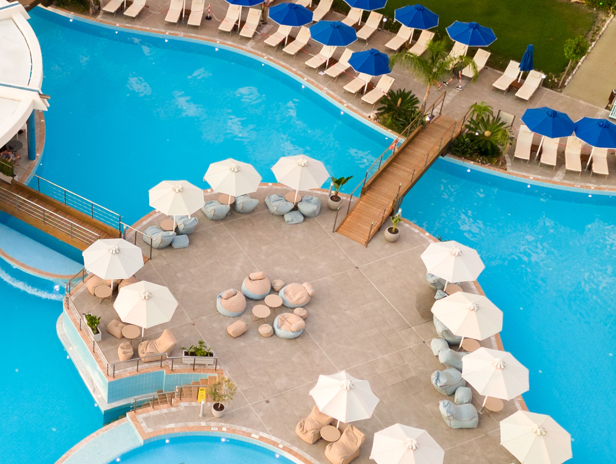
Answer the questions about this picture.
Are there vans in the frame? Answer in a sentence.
No, I can see no van in this picture.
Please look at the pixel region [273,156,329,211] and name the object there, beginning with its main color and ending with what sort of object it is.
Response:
white umbrella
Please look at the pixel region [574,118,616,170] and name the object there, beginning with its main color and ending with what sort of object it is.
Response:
blue umbrella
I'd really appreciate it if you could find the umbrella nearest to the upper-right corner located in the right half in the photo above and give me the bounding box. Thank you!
[514,45,533,92]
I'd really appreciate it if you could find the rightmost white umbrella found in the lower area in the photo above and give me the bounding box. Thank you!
[495,414,568,464]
